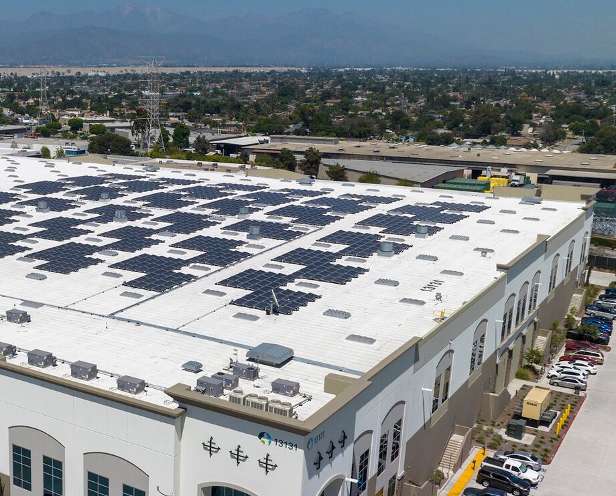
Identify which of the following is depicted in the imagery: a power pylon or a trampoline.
power pylon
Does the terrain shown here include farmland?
No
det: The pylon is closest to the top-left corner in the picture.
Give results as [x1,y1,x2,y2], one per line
[33,57,54,117]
